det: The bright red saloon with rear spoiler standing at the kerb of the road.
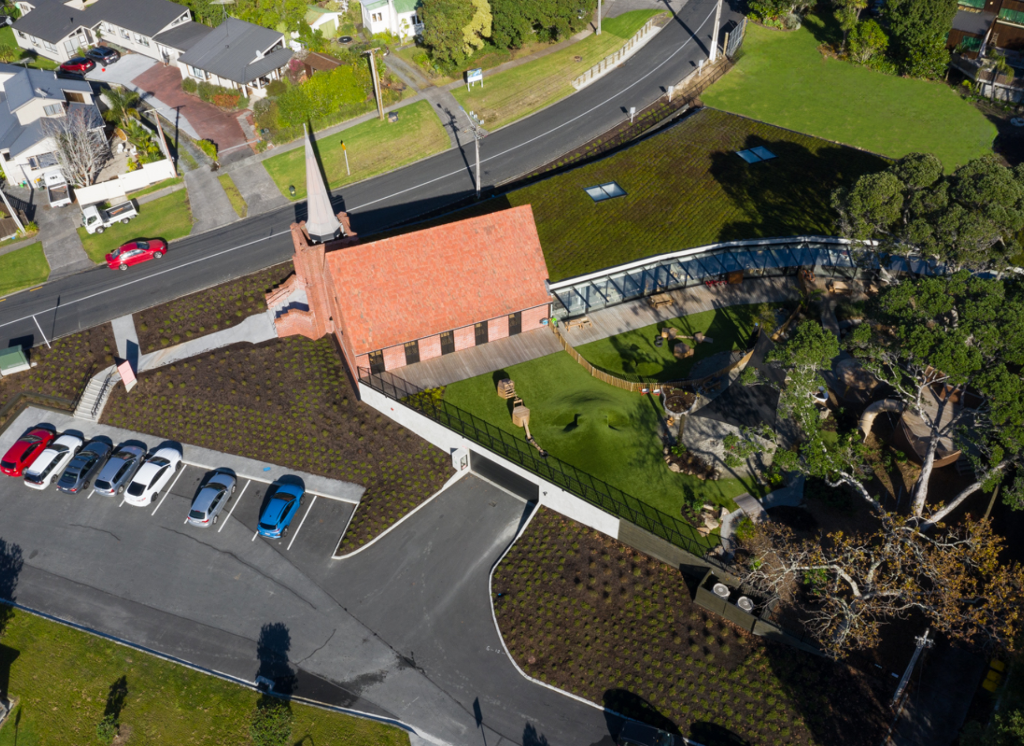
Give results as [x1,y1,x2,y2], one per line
[106,239,167,269]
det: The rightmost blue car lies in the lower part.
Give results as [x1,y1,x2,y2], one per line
[256,485,306,542]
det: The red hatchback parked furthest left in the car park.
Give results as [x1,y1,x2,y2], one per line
[0,429,53,480]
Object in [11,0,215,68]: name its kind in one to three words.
house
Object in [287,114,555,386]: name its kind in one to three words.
church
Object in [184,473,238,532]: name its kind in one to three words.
car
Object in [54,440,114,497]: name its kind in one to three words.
car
